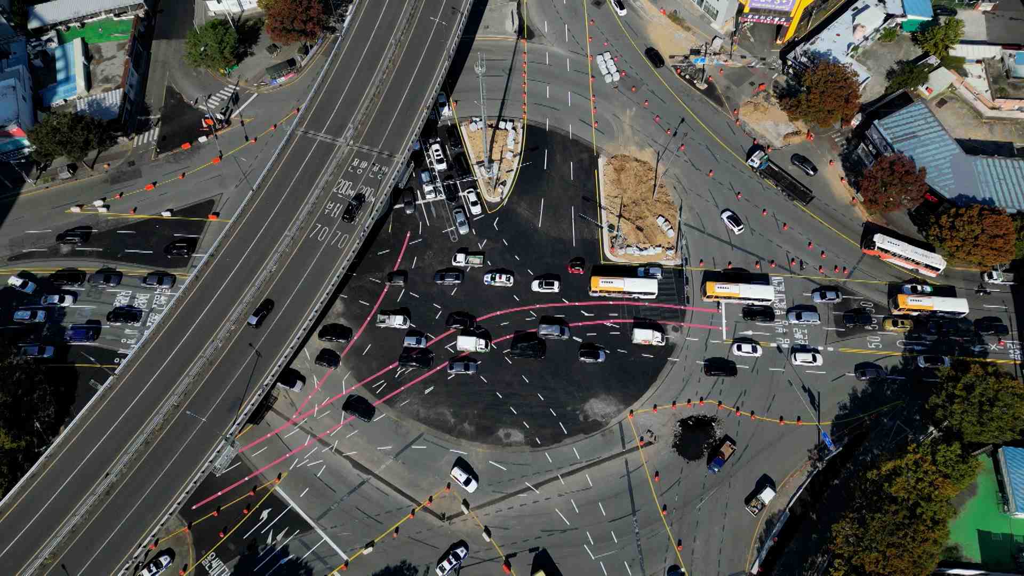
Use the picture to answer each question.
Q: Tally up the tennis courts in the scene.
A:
none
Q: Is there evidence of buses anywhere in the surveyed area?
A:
Yes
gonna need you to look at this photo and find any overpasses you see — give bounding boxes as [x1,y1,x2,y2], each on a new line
[0,0,475,576]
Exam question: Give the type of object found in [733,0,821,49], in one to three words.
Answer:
building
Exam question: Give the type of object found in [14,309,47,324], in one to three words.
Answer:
car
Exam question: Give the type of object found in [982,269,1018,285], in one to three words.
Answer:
vehicle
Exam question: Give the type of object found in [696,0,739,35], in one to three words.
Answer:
building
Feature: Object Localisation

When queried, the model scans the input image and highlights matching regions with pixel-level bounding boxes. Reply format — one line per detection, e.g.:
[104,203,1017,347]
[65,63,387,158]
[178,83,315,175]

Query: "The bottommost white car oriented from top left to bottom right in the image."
[449,466,480,496]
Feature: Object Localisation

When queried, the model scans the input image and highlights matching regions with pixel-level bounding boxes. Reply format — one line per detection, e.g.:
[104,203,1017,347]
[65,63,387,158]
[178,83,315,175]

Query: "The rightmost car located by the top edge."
[933,4,959,17]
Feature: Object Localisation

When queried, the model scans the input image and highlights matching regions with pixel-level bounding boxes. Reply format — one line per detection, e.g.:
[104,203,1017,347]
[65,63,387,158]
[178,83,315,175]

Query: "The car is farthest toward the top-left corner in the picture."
[57,233,88,247]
